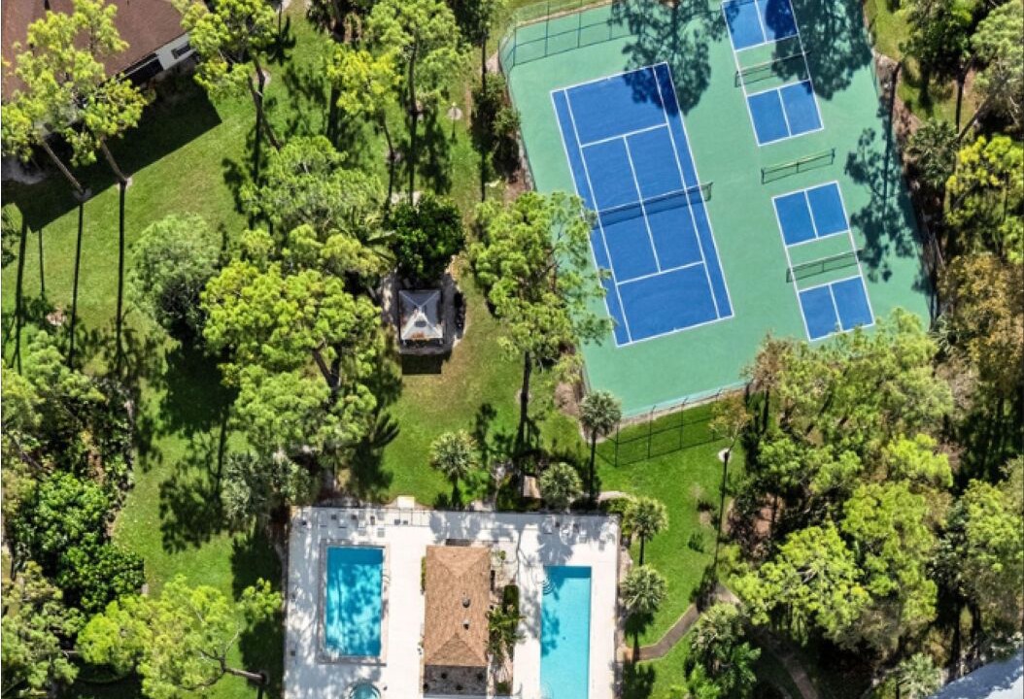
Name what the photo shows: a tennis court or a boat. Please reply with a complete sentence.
Looking from above, you can make out a tennis court.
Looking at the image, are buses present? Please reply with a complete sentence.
No, there isn't any bus down there.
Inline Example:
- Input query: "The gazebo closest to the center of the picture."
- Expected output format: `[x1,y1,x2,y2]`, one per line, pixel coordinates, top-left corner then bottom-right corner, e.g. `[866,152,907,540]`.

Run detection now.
[399,290,443,344]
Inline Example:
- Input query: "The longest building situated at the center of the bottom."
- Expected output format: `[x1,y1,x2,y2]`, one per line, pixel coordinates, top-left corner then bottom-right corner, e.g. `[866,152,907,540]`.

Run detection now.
[423,538,491,668]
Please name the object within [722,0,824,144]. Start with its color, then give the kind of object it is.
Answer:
blue sports court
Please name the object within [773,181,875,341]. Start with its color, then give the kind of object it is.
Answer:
blue sports court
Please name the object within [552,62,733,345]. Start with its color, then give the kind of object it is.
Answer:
blue tennis court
